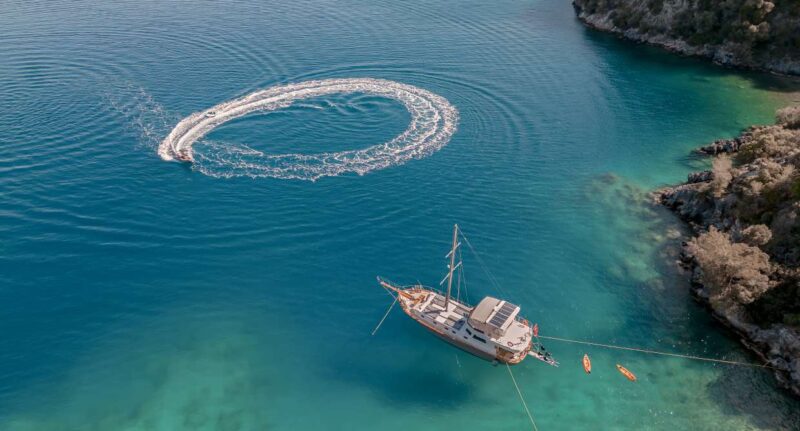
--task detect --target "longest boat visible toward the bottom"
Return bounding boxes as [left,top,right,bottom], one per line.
[376,225,561,369]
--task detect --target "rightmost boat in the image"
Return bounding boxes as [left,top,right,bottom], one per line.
[616,362,638,381]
